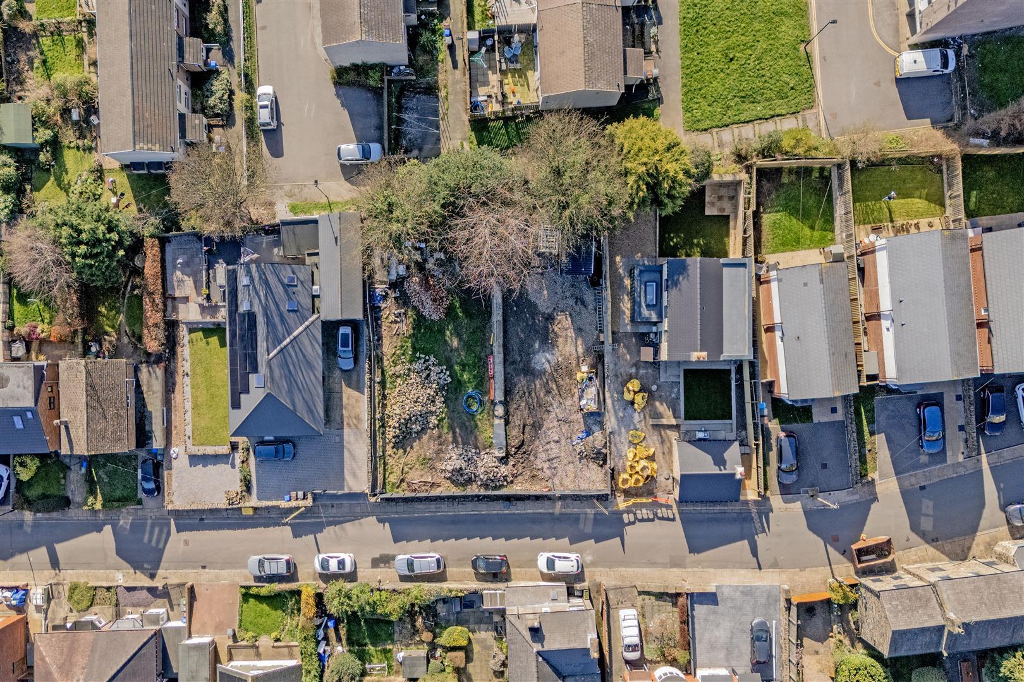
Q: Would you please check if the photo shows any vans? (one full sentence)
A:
Yes, the picture does show a van.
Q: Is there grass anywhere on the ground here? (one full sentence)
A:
Yes, there's grass in this view.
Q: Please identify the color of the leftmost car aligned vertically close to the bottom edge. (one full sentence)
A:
The leftmost car aligned vertically close to the bottom edge looks white in the image.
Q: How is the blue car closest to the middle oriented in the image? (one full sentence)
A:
I'd say the blue car closest to the middle is aligned from top to bottom in the picture.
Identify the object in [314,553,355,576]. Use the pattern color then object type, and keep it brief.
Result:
white car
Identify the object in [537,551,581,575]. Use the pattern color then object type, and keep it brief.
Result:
white car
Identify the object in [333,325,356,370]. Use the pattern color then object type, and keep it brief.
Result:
blue car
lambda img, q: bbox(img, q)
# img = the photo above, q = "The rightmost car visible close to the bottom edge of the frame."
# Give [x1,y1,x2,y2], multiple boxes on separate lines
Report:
[749,616,773,664]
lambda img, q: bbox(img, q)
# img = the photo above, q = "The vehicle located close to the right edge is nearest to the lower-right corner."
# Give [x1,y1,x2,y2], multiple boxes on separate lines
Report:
[1001,504,1024,528]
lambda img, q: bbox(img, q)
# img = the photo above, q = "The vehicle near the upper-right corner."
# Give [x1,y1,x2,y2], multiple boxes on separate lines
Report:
[893,47,950,78]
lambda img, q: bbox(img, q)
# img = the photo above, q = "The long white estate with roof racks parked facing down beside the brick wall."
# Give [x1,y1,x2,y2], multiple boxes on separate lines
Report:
[619,606,643,660]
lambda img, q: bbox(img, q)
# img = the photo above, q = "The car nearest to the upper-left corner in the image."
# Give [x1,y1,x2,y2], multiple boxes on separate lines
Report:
[253,86,277,131]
